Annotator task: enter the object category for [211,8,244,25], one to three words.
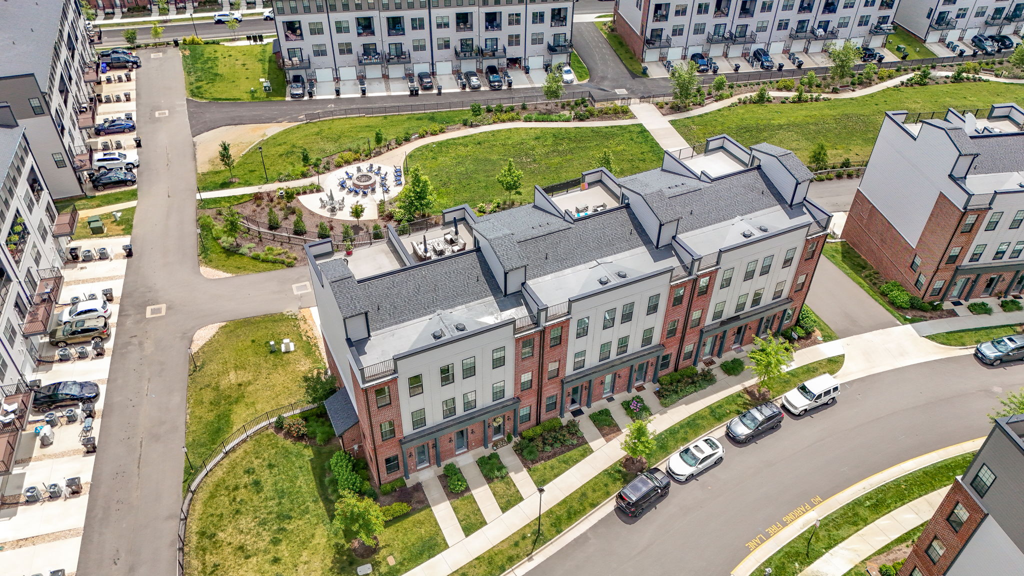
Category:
car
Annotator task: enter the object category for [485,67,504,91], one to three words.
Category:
car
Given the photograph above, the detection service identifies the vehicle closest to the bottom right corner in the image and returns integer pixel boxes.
[980,338,1024,372]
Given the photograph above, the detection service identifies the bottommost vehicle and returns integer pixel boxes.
[613,471,676,520]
